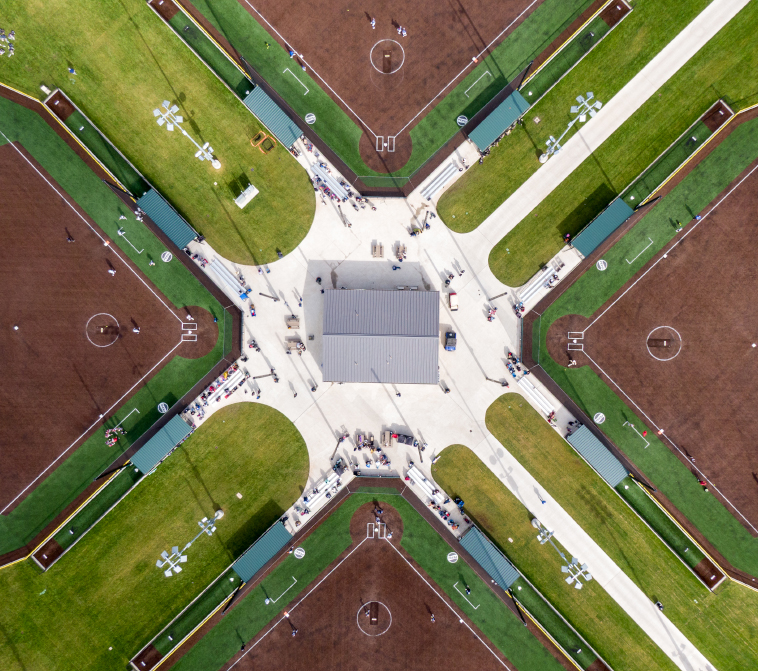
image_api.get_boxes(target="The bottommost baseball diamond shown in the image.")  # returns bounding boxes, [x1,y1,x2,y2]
[152,478,583,671]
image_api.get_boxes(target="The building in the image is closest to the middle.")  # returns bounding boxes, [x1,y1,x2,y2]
[321,289,439,385]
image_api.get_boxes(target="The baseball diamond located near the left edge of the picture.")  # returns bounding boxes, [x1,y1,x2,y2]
[0,84,241,567]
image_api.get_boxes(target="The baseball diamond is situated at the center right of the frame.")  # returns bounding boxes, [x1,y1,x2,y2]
[522,106,758,590]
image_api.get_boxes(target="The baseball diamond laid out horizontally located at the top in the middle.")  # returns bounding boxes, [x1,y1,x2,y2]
[175,0,611,196]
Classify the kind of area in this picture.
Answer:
sports ground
